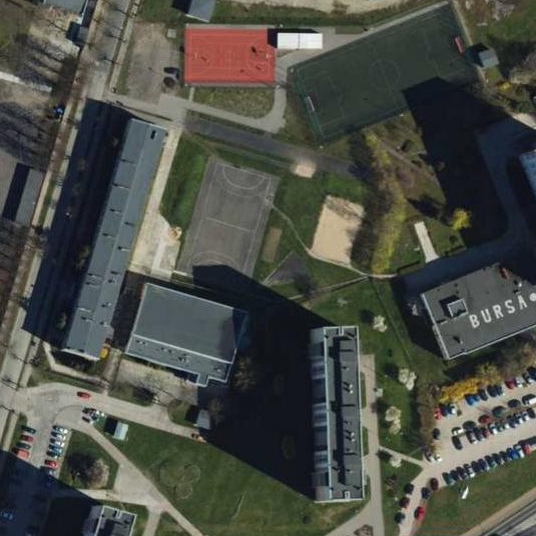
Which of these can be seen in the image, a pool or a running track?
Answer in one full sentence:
Visible in the photo is a running track.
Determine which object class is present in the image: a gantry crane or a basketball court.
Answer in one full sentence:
Of the two, only a basketball court appears.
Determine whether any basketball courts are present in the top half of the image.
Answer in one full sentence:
Yes, a basketball court appears in the top half of the image.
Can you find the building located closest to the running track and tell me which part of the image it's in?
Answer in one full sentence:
The building located closest to the running track is in the left part of the image.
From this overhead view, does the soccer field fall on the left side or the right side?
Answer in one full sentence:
The soccer field is on the right side of the image.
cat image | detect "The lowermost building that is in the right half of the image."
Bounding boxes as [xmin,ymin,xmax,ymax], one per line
[309,326,363,500]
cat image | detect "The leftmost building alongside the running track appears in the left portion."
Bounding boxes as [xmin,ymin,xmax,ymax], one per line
[62,117,168,360]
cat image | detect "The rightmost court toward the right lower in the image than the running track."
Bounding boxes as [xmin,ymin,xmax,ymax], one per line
[311,195,363,265]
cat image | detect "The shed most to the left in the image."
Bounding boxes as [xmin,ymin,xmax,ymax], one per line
[17,168,45,225]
